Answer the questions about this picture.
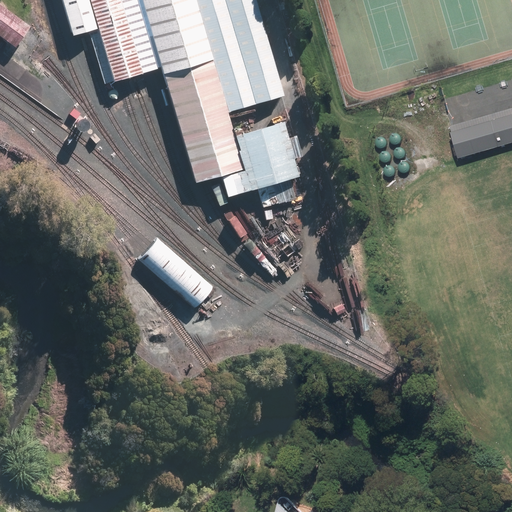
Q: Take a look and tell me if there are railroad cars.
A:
Yes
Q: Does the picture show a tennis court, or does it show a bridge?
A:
tennis court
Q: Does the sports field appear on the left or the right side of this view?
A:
right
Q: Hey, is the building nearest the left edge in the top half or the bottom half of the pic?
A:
top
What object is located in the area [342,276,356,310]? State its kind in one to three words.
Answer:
rail car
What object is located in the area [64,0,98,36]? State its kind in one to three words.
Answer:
building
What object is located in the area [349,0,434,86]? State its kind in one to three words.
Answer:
tennis court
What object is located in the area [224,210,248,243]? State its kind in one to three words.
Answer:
rail car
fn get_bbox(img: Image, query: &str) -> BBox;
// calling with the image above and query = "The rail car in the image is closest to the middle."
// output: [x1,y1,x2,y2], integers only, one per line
[244,239,280,276]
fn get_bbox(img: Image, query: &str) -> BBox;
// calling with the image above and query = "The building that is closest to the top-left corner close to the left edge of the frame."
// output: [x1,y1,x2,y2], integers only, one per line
[0,4,31,48]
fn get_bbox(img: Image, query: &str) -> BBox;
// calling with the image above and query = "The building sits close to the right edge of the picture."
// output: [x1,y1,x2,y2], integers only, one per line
[450,108,512,159]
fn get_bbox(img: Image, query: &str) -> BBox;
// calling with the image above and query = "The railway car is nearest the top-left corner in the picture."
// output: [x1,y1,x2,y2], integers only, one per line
[213,184,227,206]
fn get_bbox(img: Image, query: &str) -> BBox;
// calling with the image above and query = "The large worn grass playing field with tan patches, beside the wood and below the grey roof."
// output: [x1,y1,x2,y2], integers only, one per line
[400,148,512,456]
